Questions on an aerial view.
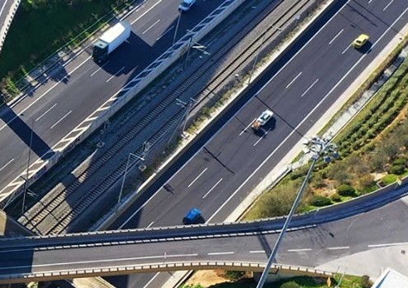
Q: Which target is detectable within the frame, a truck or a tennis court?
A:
truck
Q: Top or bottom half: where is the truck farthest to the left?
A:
top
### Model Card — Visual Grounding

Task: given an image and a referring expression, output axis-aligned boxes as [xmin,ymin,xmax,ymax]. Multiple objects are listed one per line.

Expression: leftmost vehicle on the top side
[95,17,134,55]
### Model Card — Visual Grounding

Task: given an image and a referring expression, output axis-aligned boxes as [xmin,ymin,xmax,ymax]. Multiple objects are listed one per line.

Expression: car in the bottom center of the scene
[182,210,201,227]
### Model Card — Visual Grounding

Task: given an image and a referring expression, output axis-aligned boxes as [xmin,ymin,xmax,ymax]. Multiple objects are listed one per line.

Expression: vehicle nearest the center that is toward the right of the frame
[252,113,272,132]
